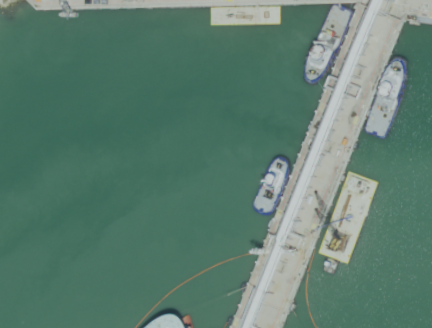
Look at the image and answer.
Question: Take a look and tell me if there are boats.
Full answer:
Yes, the frame does contain a boat.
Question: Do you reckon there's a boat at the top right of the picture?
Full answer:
Yes, a boat shows up at the top right of the picture.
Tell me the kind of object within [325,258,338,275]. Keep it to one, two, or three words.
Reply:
boat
